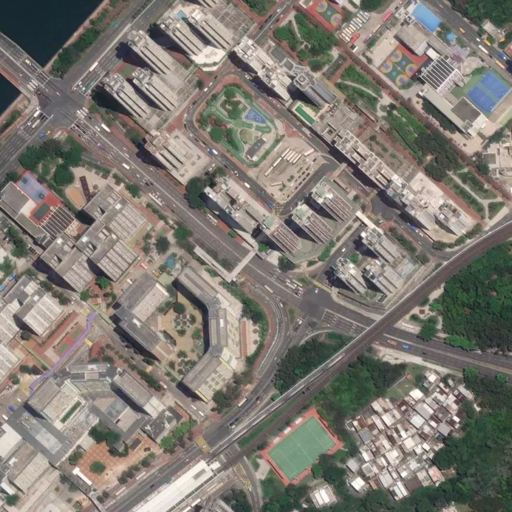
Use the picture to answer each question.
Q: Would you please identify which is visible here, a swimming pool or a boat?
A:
swimming pool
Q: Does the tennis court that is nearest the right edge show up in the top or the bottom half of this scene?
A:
top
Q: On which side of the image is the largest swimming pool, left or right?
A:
right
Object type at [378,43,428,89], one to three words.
sports court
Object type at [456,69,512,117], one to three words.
tennis court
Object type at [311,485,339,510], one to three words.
house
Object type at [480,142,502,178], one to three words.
building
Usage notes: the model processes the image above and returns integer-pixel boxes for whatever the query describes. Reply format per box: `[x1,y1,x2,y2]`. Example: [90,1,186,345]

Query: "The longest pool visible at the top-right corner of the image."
[414,4,442,34]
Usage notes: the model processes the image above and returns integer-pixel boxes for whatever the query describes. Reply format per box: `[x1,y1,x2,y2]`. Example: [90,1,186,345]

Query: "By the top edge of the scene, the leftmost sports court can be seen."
[308,0,345,33]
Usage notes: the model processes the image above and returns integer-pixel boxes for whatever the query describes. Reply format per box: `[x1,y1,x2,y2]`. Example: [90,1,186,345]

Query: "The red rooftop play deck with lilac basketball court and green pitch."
[16,170,66,225]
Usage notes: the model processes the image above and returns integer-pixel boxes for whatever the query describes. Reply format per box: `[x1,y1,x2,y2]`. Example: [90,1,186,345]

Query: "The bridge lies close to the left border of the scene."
[0,30,51,98]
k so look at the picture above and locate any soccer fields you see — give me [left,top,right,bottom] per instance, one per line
[262,406,344,484]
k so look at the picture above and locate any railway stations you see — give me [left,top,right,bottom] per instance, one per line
[129,459,222,512]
